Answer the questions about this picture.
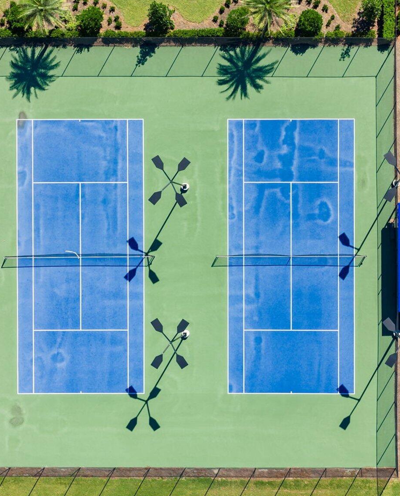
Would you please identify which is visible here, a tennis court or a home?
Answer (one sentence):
Of the two, only a tennis court appears.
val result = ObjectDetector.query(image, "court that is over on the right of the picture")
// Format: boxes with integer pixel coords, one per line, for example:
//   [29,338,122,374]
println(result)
[185,47,397,467]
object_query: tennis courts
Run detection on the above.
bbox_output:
[185,47,397,467]
[0,47,185,467]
